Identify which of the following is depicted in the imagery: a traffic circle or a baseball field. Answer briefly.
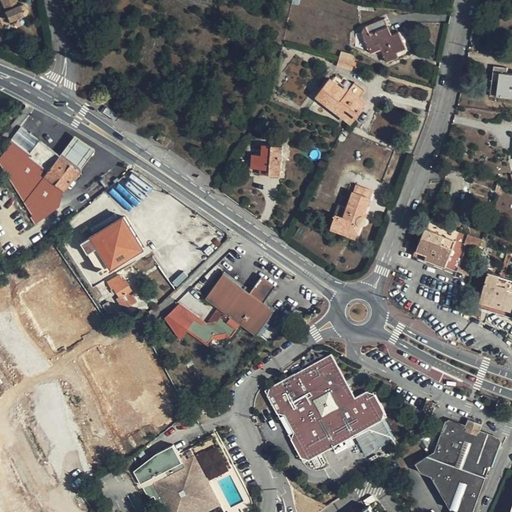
traffic circle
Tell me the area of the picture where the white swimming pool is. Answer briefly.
bottom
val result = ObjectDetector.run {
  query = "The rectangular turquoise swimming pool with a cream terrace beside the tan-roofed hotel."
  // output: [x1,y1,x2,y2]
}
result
[211,468,252,512]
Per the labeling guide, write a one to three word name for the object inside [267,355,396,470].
building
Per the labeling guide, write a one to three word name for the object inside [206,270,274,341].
building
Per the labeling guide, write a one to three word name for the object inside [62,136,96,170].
shed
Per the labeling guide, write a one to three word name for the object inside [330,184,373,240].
house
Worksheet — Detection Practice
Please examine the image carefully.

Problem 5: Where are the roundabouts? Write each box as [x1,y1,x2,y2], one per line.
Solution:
[311,270,404,345]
